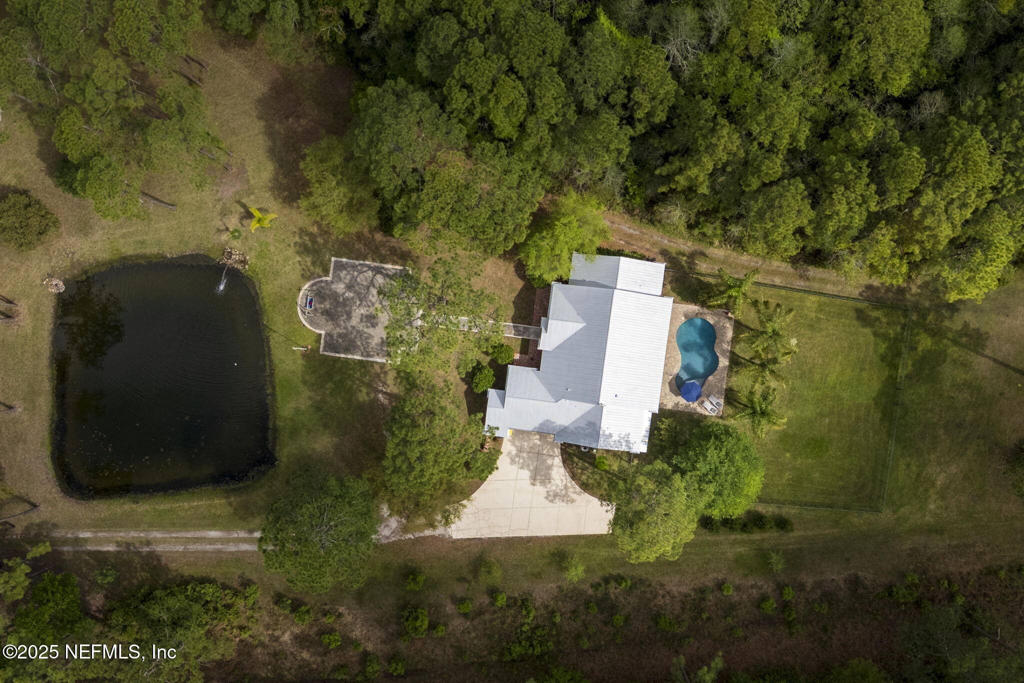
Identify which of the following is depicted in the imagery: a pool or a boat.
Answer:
pool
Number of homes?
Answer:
1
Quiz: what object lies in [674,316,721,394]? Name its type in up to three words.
swimming pool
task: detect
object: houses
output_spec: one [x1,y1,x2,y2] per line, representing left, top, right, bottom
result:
[485,252,674,455]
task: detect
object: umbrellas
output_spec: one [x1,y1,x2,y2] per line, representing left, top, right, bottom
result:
[678,380,700,402]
